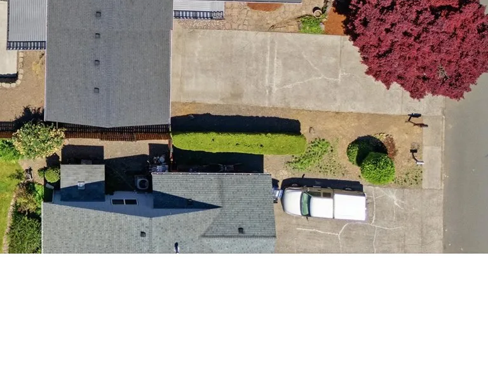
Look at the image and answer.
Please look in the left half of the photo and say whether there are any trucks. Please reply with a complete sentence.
No, I see no truck in the left half of the photo.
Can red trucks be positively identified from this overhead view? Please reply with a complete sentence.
No, I find no red truck anywhere in the image.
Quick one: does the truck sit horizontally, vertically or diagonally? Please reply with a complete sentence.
The truck runs horizontally in the image.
